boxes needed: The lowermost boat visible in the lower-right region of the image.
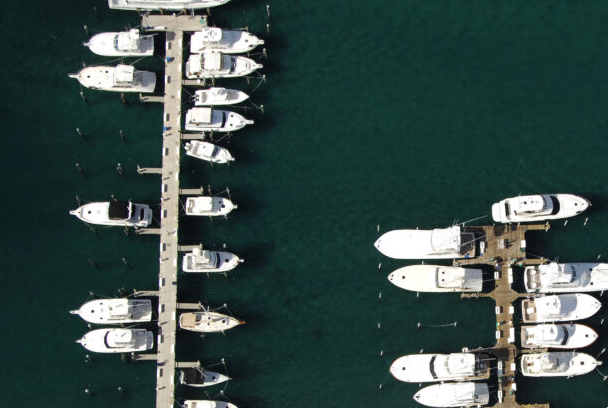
[413,377,494,408]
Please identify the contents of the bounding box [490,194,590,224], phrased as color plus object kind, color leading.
white boat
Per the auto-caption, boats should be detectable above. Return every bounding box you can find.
[179,364,232,388]
[517,263,608,292]
[521,292,602,324]
[82,25,162,60]
[182,137,235,163]
[183,82,249,107]
[383,345,512,384]
[185,106,253,135]
[381,257,498,295]
[490,194,590,224]
[183,52,264,81]
[180,20,265,55]
[509,319,603,349]
[180,307,246,333]
[176,400,237,408]
[185,193,238,219]
[413,377,494,408]
[69,292,159,325]
[517,345,605,379]
[75,322,154,356]
[66,60,164,97]
[68,198,161,229]
[374,217,496,261]
[180,252,245,276]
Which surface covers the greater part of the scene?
water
